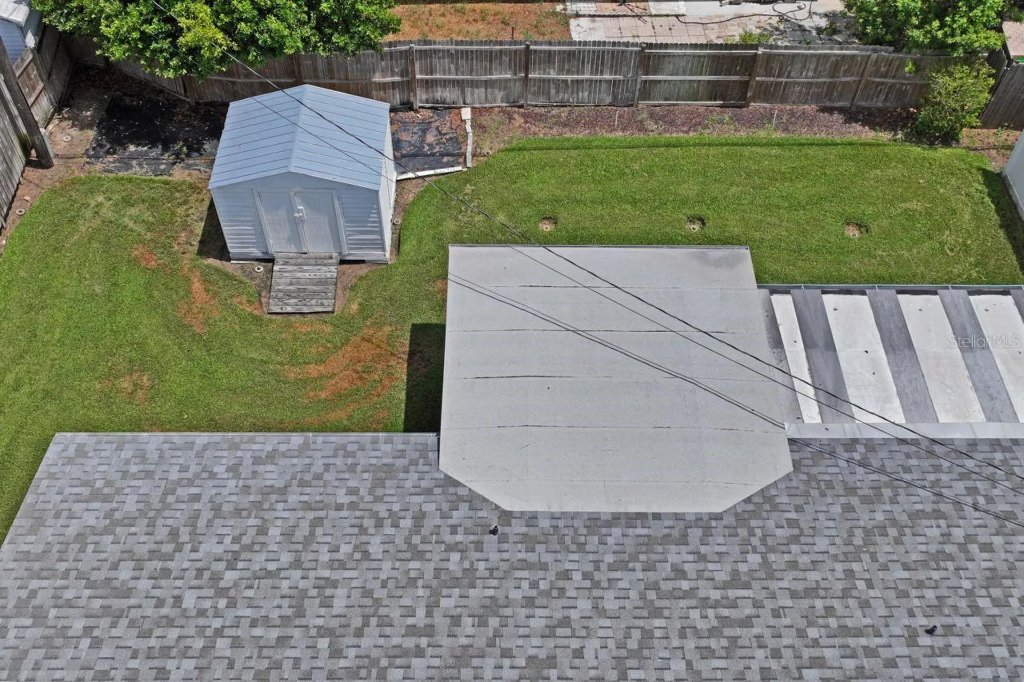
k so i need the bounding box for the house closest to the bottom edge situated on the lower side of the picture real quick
[0,243,1024,682]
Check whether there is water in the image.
No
